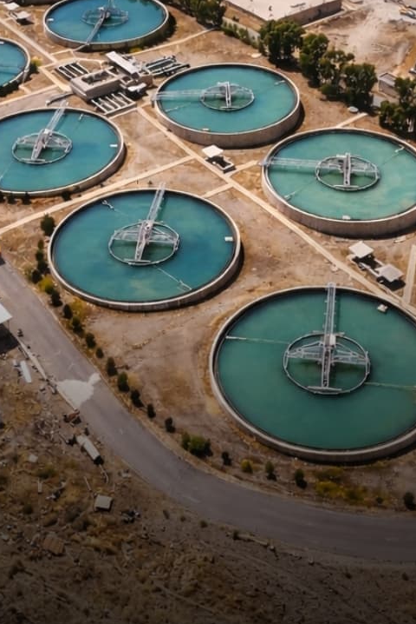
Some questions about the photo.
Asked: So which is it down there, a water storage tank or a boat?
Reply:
water storage tank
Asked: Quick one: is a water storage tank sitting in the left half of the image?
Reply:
Yes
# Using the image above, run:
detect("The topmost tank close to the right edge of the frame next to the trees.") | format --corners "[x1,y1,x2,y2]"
[257,128,416,237]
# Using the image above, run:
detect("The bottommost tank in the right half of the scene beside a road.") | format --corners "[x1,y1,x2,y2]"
[211,277,416,467]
